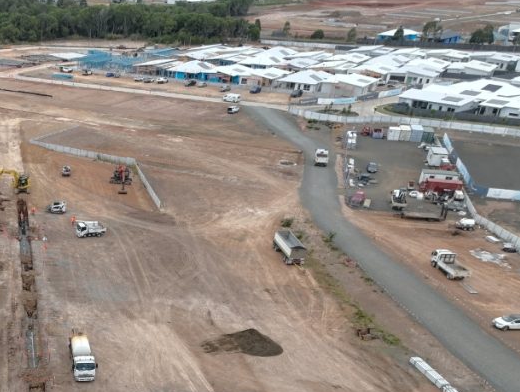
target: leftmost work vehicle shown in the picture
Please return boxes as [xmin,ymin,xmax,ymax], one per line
[0,166,37,194]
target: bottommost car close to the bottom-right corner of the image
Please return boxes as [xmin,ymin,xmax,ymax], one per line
[495,315,520,330]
